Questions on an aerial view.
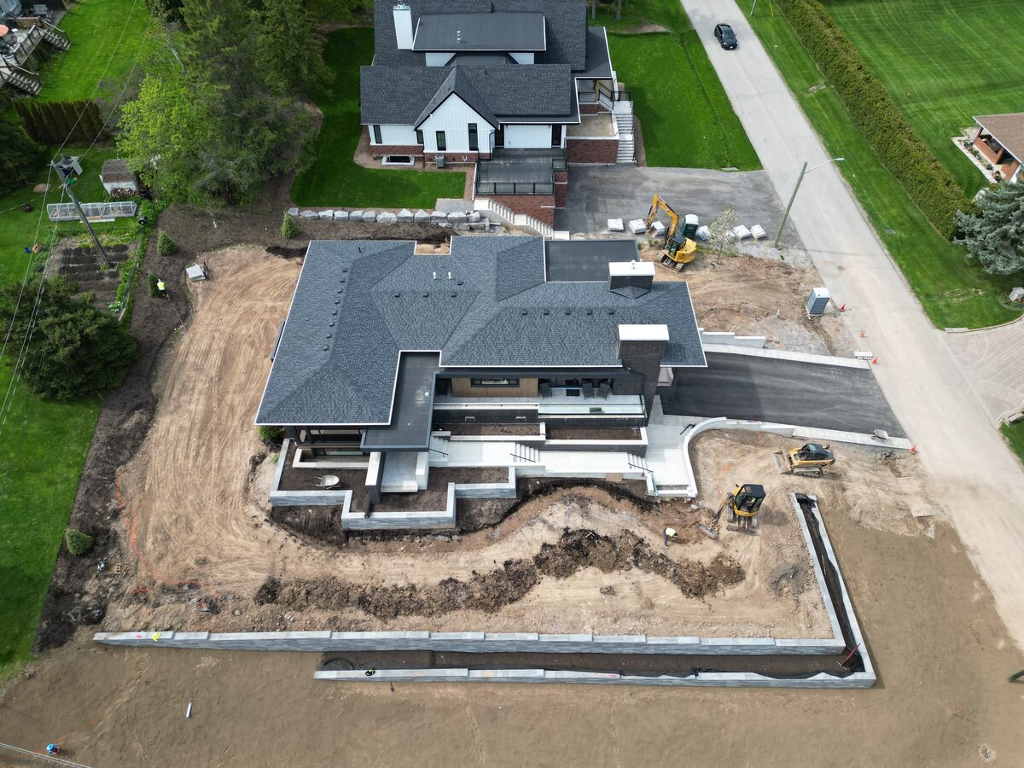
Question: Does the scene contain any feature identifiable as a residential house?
Yes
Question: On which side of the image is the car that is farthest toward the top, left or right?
right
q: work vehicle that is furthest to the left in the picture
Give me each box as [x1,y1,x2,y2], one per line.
[643,190,703,270]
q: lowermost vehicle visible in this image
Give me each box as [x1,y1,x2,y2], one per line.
[702,483,773,539]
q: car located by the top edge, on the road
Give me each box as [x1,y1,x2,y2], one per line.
[713,19,738,46]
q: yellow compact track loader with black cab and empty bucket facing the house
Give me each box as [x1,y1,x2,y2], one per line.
[770,441,844,487]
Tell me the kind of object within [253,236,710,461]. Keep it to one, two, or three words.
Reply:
house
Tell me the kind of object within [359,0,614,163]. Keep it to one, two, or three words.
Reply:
house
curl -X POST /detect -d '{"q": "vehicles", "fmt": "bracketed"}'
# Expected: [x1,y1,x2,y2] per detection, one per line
[713,19,738,46]
[643,190,703,270]
[702,483,773,539]
[770,441,844,487]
